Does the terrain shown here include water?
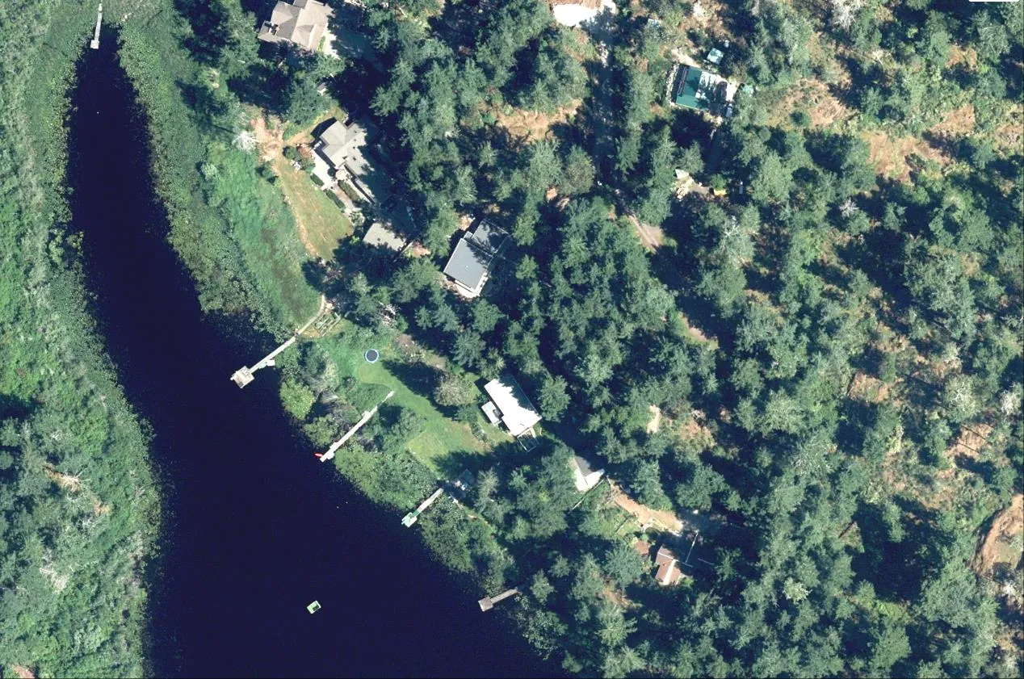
Yes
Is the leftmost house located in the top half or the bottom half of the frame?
top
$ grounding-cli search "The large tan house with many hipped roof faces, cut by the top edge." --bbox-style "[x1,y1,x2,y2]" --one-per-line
[258,0,333,52]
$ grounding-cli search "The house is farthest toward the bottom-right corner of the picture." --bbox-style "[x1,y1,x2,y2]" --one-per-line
[656,546,682,586]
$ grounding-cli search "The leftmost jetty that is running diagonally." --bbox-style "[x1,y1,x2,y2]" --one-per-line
[234,336,297,388]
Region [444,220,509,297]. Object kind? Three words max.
house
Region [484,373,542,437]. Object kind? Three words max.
house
